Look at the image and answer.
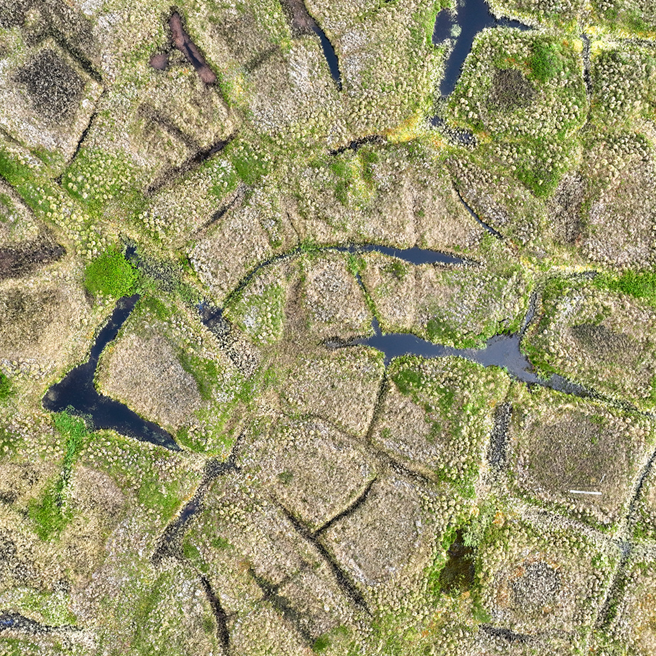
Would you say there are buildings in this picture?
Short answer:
No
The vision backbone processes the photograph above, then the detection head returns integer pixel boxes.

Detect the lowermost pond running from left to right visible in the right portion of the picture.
[339,317,601,398]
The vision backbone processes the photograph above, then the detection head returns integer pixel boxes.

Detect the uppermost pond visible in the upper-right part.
[432,0,532,97]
